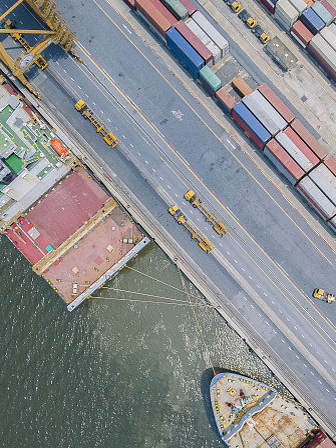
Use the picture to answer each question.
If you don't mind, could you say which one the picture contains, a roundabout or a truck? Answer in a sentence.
The image shows a truck.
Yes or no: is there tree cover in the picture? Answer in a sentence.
No, tree cover can't be seen anywhere here.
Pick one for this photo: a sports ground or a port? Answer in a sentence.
The area seen from above is a port.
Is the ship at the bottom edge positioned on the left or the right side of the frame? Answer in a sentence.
The ship at the bottom edge appears in the right half of the scene.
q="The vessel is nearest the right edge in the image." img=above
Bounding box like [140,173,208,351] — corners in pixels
[209,371,336,448]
